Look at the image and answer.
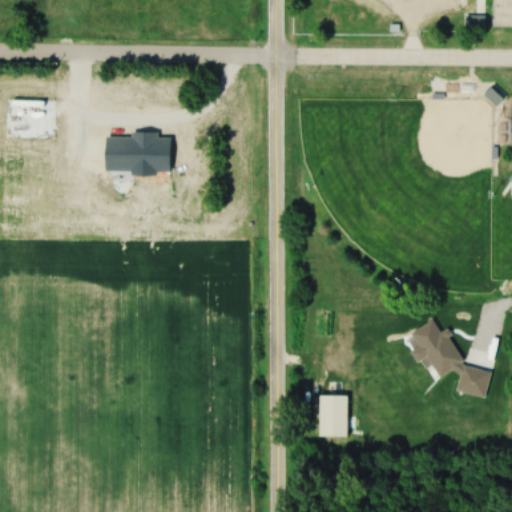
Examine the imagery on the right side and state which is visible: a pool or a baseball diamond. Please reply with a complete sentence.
The feature located on the right side is a baseball diamond.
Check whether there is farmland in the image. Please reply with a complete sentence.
Yes, there is farmland in the image.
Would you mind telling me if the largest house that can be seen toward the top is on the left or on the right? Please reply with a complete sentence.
The largest house that can be seen toward the top sits on the left side.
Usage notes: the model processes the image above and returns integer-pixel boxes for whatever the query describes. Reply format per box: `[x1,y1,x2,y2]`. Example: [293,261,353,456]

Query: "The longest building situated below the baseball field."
[402,319,494,398]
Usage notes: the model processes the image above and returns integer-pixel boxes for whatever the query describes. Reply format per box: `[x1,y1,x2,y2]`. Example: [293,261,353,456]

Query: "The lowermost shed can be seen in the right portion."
[320,396,348,438]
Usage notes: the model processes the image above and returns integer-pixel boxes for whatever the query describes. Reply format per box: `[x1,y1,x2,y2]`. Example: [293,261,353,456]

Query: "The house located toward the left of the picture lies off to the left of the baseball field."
[105,132,172,183]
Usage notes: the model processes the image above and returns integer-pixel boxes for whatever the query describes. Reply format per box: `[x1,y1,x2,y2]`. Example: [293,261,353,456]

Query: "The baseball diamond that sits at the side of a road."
[300,98,495,292]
